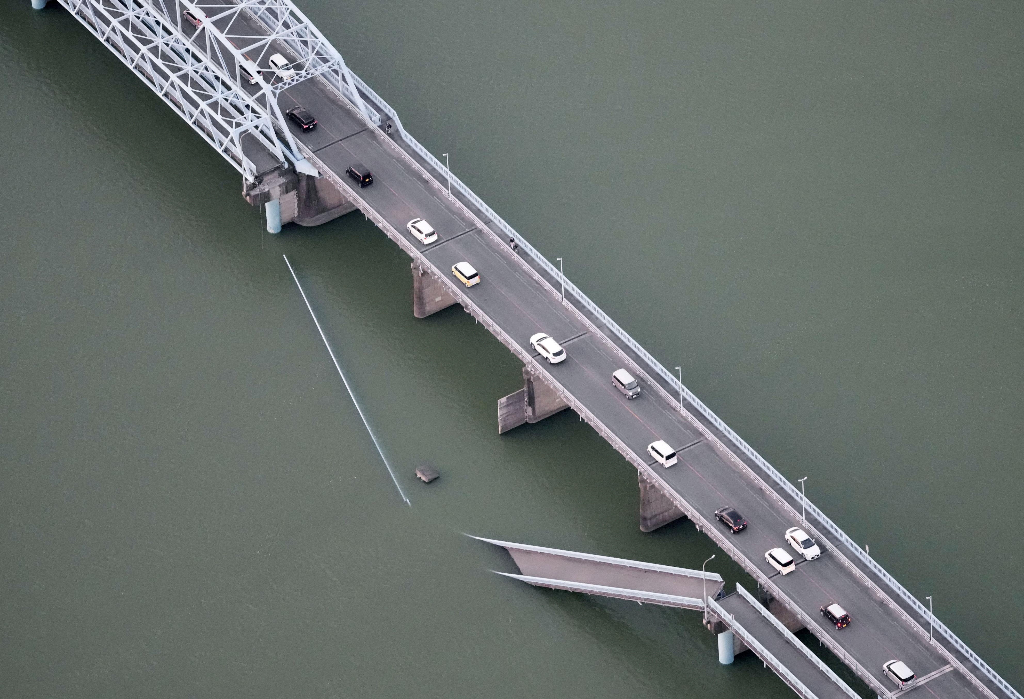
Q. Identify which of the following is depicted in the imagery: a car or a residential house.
car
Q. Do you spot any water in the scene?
Yes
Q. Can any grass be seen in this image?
No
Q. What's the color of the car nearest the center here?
white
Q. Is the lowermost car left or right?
right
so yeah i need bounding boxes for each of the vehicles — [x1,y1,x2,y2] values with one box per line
[764,547,795,575]
[284,103,320,133]
[181,8,211,34]
[345,161,373,187]
[611,367,641,400]
[784,526,824,561]
[407,219,439,246]
[715,505,752,536]
[647,441,678,468]
[820,602,852,630]
[530,333,568,365]
[452,263,481,288]
[269,52,297,82]
[883,662,915,690]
